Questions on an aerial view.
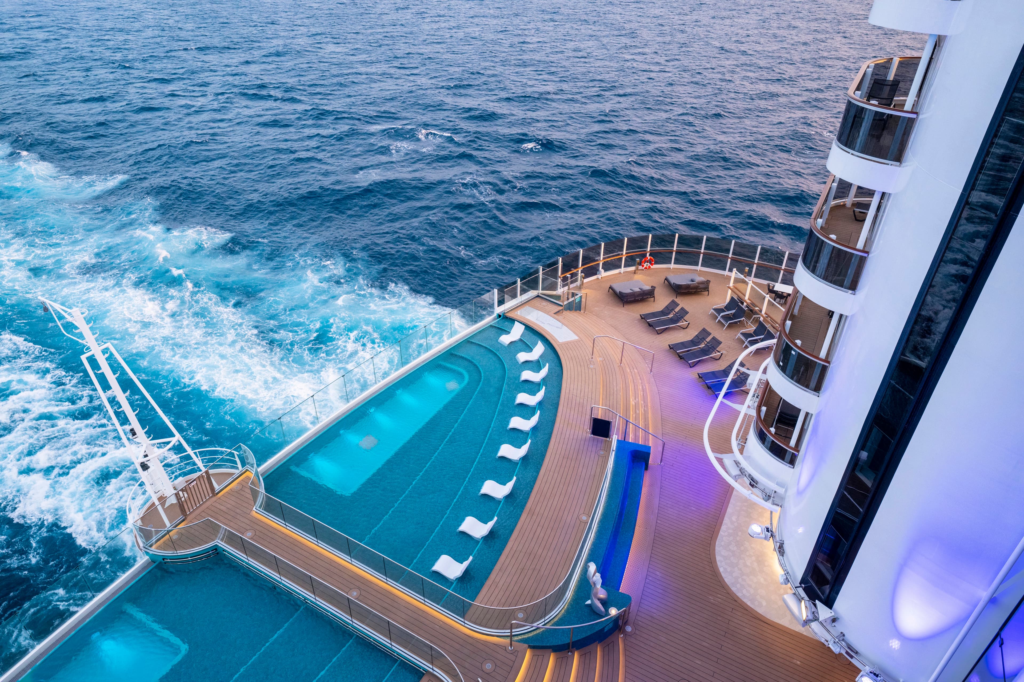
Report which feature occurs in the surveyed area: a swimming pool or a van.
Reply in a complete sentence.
The one in the frame is a swimming pool.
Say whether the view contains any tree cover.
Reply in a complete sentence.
No, there's no tree cover in this view.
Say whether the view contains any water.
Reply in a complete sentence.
Yes, some water is visible.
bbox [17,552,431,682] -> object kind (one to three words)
swimming pool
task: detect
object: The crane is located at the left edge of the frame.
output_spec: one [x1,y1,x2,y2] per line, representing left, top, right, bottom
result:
[37,296,217,525]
